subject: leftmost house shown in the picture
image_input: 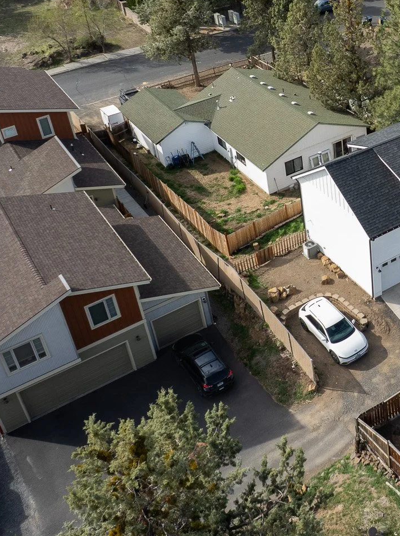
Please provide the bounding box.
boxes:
[0,69,224,434]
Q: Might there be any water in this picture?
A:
No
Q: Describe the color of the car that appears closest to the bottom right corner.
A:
white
